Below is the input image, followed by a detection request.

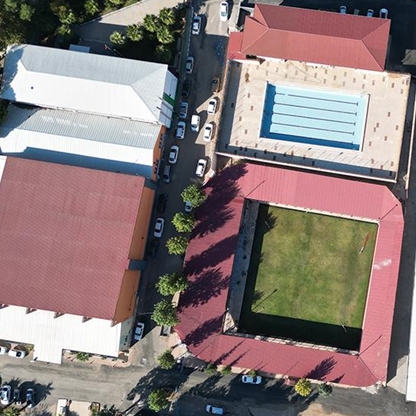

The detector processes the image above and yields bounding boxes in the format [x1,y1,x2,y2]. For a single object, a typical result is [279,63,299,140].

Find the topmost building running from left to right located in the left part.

[1,45,177,129]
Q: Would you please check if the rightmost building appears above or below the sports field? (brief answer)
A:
above it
